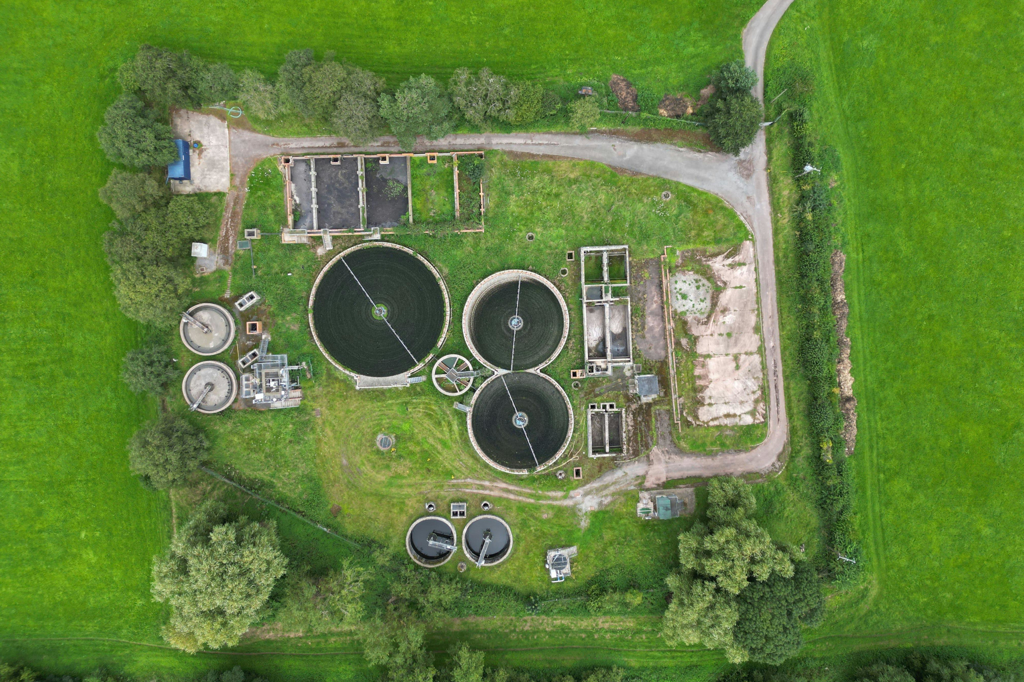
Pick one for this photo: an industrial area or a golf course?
industrial area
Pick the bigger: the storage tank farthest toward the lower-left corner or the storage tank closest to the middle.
the storage tank closest to the middle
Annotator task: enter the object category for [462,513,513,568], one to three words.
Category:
storage tank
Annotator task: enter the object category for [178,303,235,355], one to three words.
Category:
storage tank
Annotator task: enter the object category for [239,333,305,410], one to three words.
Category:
building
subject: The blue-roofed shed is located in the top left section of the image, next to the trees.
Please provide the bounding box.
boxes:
[166,139,193,184]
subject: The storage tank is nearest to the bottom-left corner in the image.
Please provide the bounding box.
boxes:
[184,361,238,413]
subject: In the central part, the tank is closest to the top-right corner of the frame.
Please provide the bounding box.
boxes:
[579,245,634,377]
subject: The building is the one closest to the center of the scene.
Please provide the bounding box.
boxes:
[629,365,659,403]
